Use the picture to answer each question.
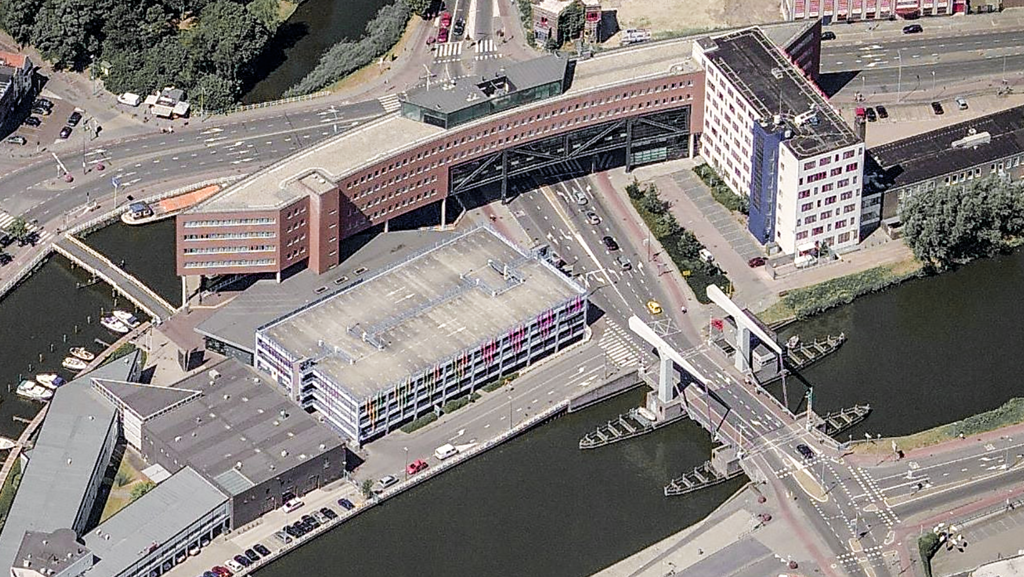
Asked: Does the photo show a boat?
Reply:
Yes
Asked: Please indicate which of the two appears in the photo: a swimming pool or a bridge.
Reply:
bridge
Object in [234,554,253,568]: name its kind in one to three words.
car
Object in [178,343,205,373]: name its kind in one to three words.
building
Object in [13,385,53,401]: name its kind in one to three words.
boat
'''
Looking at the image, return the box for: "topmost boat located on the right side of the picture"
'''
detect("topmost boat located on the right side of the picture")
[785,335,801,351]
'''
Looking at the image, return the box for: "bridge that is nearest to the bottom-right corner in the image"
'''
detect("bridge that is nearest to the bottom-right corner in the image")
[628,285,851,479]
